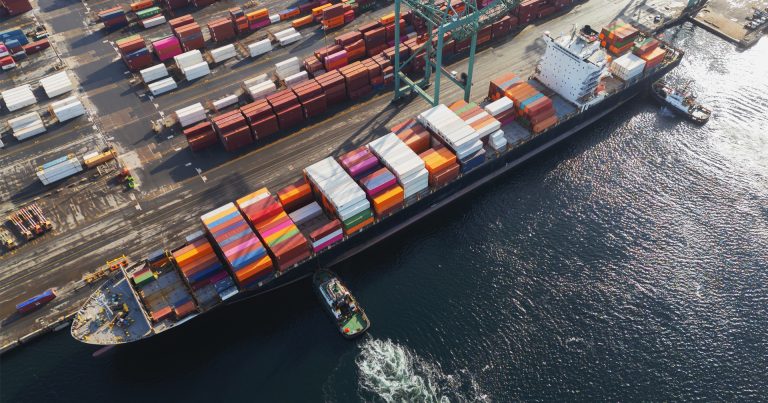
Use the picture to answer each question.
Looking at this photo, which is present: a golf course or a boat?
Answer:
boat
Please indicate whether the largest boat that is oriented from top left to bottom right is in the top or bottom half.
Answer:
bottom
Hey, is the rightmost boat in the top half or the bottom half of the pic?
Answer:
top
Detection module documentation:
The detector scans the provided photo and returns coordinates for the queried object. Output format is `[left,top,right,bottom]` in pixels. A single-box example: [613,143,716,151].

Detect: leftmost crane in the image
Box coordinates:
[392,0,527,110]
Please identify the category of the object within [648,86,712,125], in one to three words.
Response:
boat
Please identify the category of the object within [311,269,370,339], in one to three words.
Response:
boat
